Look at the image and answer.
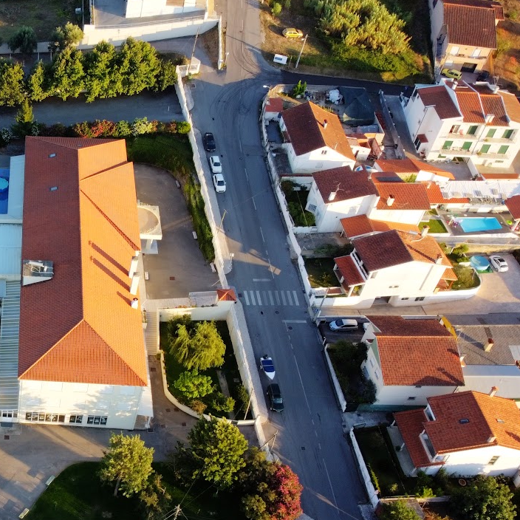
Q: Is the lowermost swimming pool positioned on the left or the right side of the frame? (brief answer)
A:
right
